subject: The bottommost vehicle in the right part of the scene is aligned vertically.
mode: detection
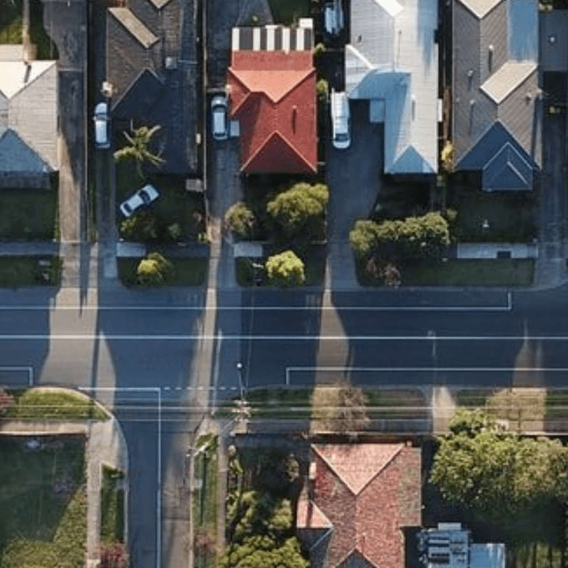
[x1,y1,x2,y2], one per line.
[332,91,351,147]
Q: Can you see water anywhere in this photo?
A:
No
